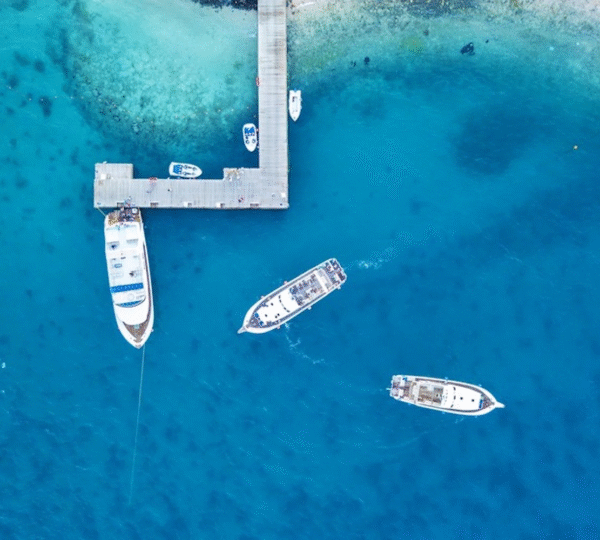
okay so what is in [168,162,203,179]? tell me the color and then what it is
white boat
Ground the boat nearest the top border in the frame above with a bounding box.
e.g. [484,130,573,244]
[289,88,302,122]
